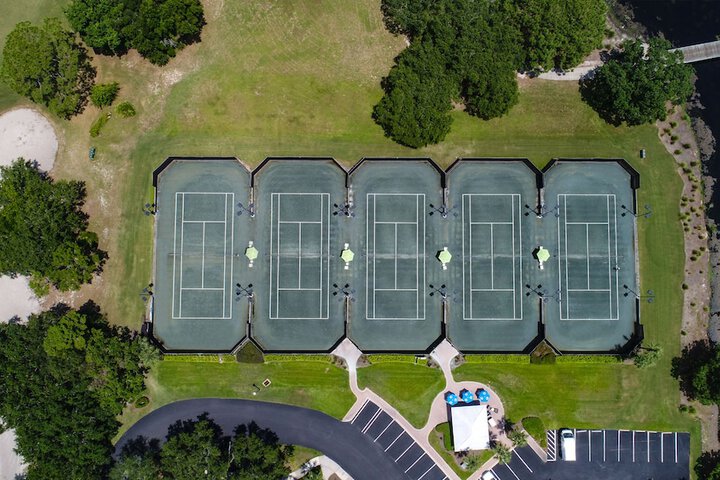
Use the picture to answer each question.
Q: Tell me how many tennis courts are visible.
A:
5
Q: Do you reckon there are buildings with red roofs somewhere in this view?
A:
No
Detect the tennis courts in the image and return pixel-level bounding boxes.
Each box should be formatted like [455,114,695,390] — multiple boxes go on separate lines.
[444,161,541,353]
[347,161,444,353]
[153,160,252,353]
[250,160,348,353]
[539,162,638,353]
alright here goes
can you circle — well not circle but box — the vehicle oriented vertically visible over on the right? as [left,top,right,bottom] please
[562,429,577,463]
